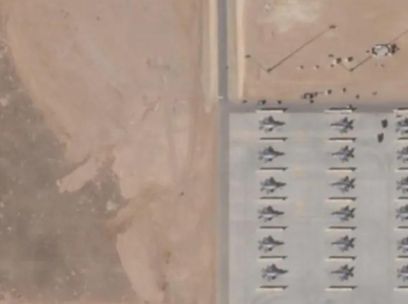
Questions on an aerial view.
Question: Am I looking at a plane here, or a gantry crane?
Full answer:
This aerial view contains a plane.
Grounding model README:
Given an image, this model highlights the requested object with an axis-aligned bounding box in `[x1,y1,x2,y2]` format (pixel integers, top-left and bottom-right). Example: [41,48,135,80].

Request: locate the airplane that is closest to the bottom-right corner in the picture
[394,266,408,281]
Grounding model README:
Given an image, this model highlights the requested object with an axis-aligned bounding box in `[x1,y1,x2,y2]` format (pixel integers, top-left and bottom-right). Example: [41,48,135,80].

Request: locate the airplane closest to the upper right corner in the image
[395,118,408,134]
